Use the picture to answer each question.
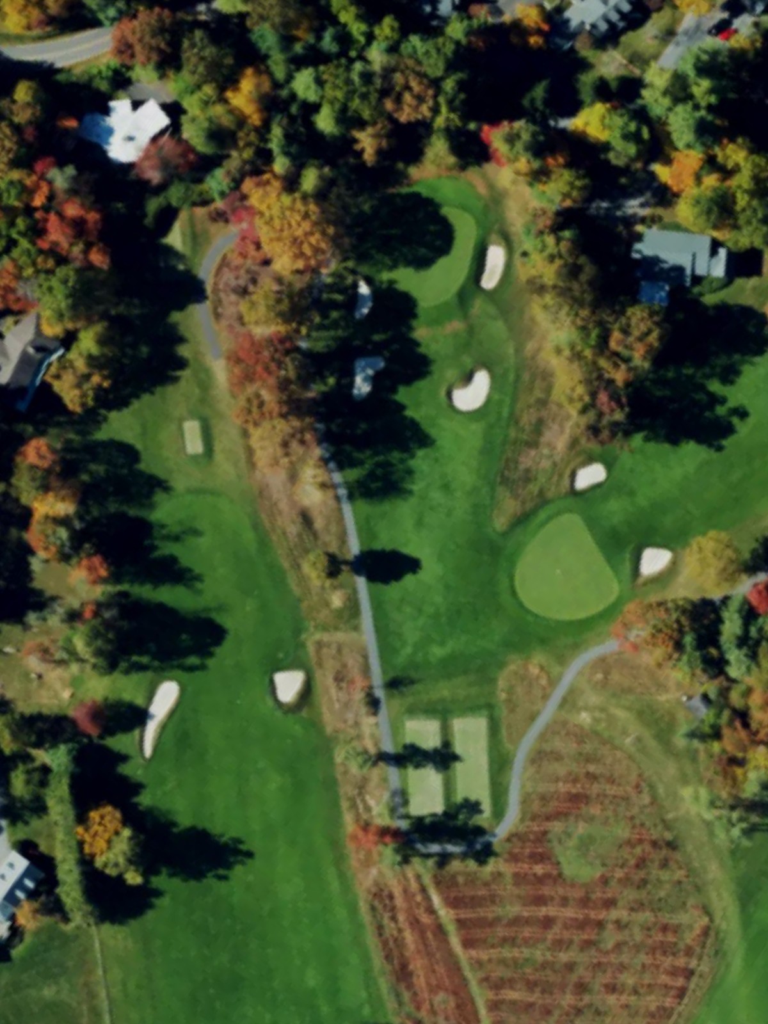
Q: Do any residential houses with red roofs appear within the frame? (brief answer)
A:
No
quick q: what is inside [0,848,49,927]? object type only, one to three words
house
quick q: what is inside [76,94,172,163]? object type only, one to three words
house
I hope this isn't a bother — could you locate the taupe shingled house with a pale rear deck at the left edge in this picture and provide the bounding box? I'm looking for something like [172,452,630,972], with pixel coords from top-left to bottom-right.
[0,317,60,412]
